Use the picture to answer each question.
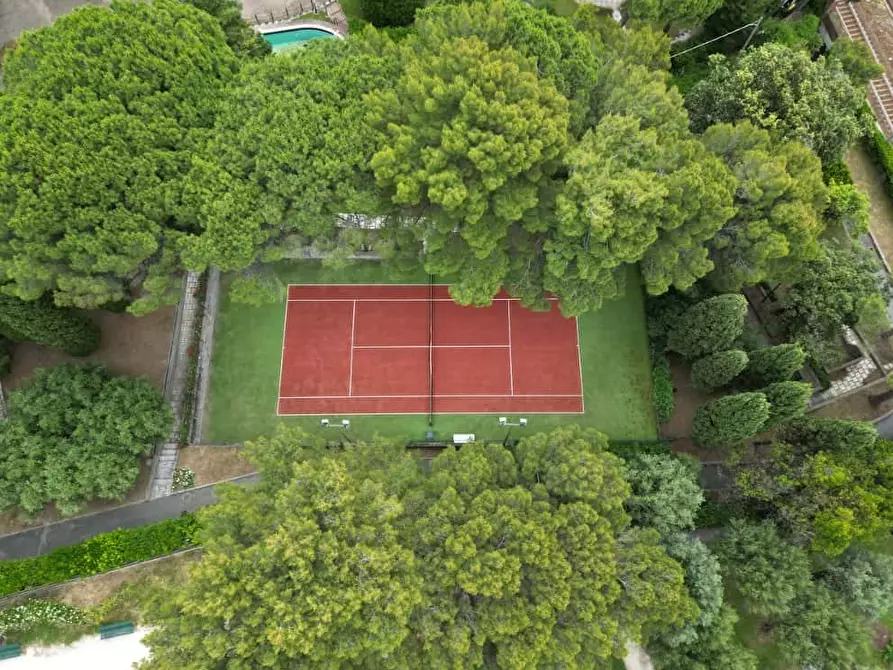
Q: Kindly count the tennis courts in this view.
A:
one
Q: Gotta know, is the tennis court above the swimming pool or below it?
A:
below it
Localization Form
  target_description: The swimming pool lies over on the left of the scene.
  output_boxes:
[256,24,348,63]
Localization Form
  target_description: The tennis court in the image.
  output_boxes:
[204,257,660,444]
